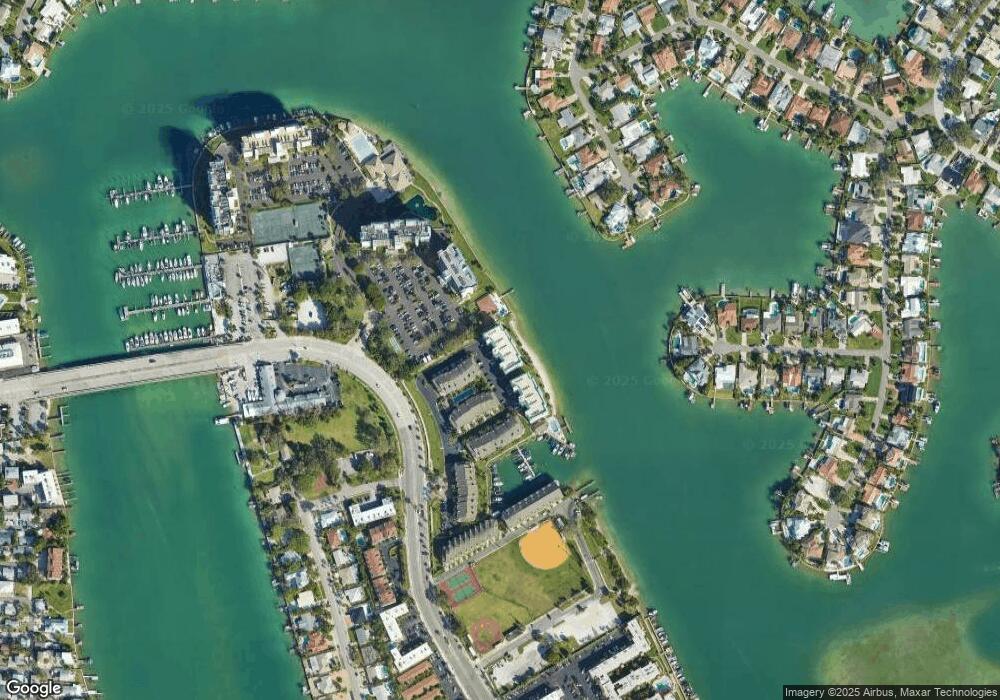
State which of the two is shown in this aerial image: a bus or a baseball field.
baseball field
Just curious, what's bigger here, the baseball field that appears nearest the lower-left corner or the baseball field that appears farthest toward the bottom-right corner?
the baseball field that appears farthest toward the bottom-right corner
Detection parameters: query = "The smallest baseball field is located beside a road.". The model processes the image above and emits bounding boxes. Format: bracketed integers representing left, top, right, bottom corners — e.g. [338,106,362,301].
[471,617,504,653]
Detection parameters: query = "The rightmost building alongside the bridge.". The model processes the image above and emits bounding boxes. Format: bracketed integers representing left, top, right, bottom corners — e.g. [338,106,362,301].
[242,364,327,419]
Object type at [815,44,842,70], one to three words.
house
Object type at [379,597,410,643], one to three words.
building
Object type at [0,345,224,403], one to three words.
bridge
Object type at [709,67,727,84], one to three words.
swimming pool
